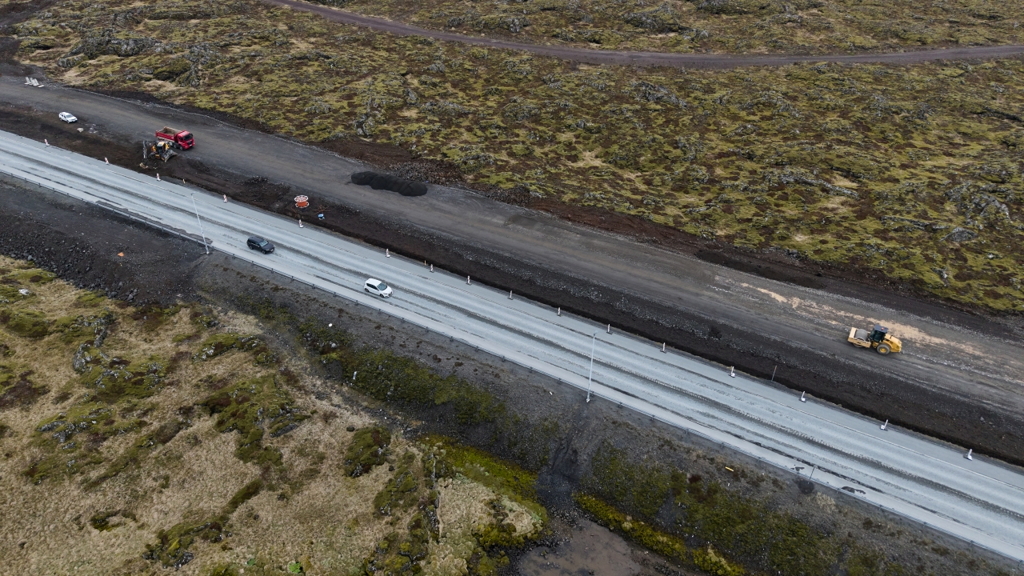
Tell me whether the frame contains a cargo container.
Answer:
No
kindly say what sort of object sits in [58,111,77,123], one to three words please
vehicle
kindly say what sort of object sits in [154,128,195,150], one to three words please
truck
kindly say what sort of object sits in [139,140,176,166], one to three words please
work vehicle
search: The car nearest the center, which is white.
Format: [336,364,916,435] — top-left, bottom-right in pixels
[363,278,392,297]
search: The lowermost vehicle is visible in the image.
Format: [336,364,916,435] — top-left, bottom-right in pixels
[849,324,904,355]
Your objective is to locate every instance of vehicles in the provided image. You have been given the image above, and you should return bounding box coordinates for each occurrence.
[58,111,77,123]
[849,324,904,355]
[363,278,392,297]
[245,235,276,254]
[139,140,176,166]
[154,128,195,150]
